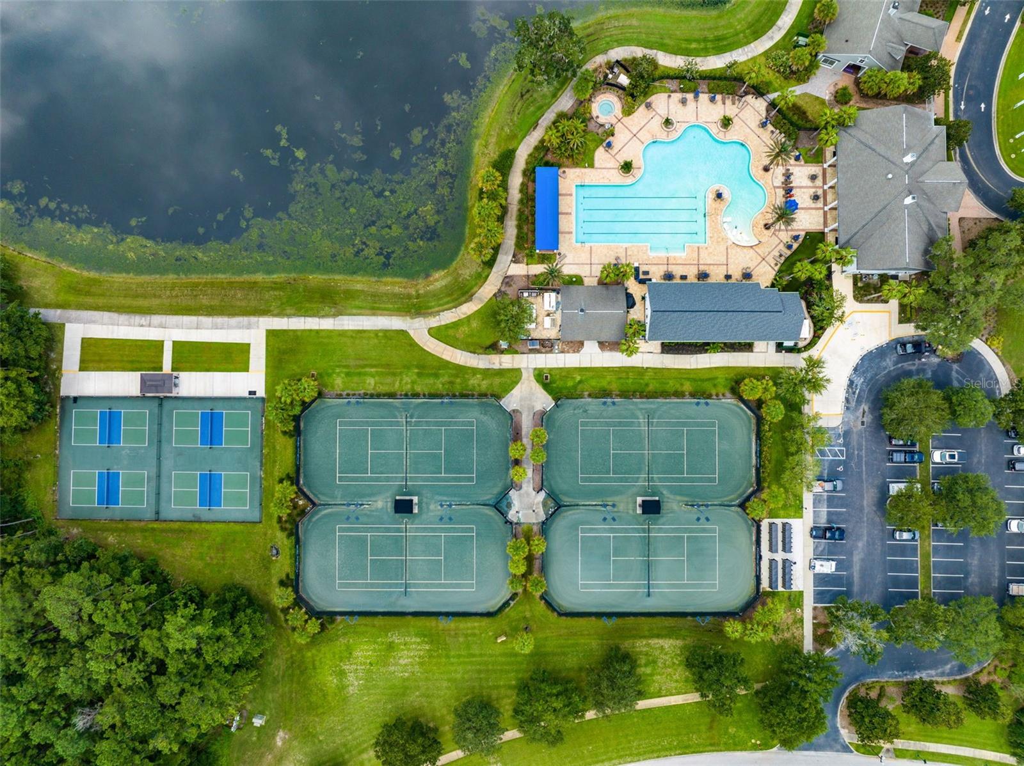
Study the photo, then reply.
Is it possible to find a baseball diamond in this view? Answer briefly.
No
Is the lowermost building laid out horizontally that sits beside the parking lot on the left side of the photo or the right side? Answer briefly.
right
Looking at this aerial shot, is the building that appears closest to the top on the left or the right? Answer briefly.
right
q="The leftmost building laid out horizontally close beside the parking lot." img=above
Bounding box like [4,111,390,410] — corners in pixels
[646,282,812,345]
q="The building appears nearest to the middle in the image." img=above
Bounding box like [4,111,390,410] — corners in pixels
[561,285,627,341]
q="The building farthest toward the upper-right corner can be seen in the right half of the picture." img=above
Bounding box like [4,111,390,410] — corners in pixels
[815,0,949,78]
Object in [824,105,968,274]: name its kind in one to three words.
building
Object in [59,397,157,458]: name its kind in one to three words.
sports court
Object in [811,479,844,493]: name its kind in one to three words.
vehicle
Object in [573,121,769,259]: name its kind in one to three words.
swimming pool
